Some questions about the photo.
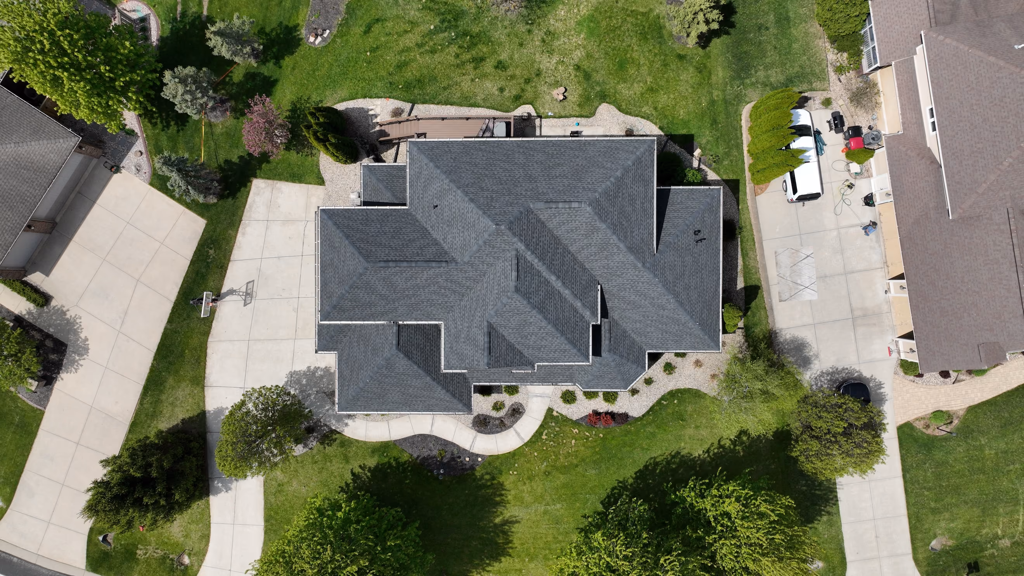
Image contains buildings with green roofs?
No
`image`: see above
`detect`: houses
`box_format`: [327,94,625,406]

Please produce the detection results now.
[0,86,103,287]
[313,136,733,416]
[850,0,1024,374]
